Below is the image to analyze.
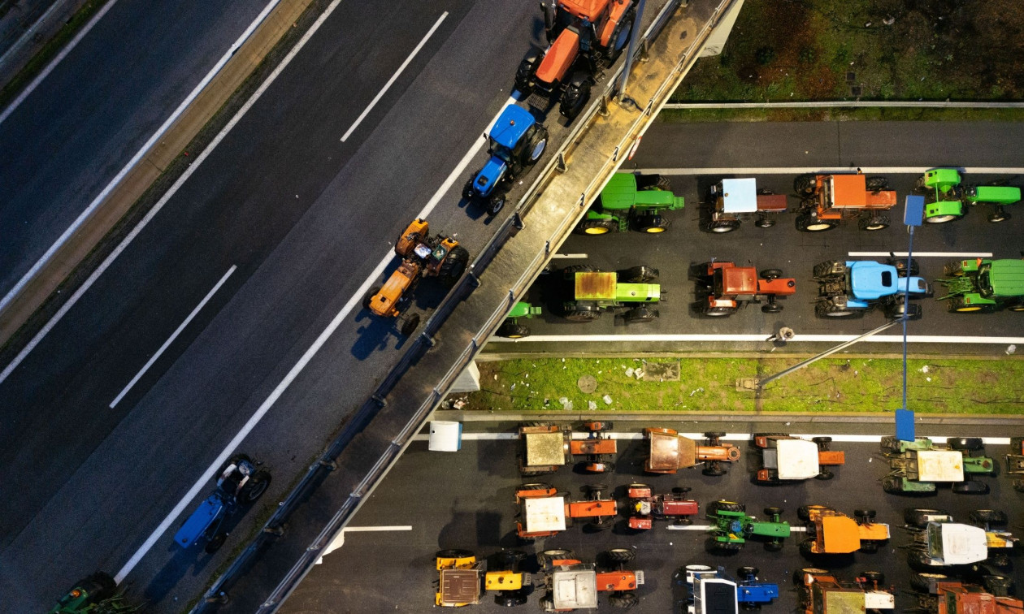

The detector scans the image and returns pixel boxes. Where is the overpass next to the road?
[0,0,744,614]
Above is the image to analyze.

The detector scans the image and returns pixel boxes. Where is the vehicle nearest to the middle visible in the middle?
[487,289,541,342]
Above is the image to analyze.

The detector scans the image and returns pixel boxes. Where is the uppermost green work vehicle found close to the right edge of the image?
[908,173,1021,230]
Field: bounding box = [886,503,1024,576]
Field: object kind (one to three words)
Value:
work vehicle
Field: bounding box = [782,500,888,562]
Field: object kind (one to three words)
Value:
work vehicle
